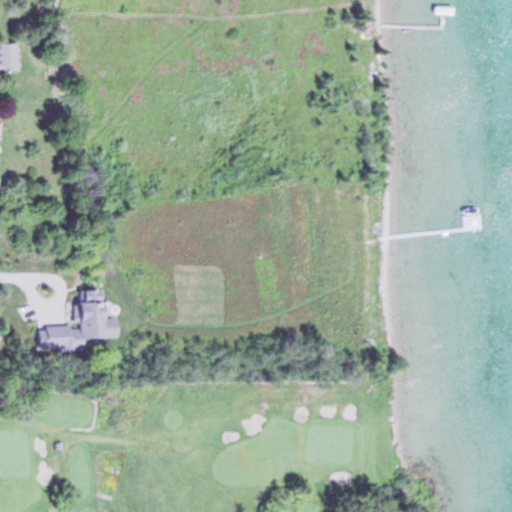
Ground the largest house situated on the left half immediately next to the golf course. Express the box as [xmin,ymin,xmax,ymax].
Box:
[38,291,122,352]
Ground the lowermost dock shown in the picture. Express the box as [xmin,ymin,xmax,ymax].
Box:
[366,214,482,245]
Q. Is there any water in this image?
Yes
